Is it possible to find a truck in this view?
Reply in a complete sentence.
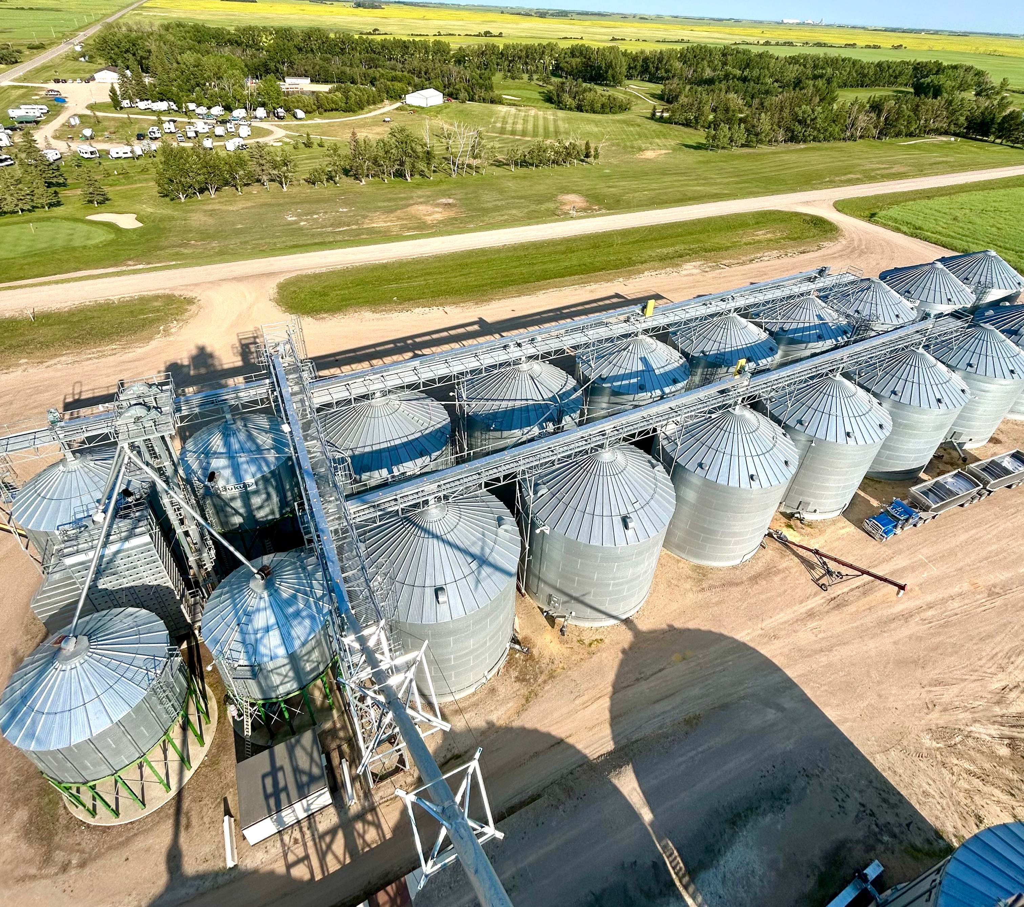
Yes, the image includes a truck.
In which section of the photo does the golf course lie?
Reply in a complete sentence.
You can find the golf course in the top area of the picture.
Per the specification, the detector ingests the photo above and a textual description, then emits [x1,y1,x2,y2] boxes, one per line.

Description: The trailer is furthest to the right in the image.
[966,447,1024,493]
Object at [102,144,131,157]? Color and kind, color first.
white vehicle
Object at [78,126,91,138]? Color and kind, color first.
white vehicle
